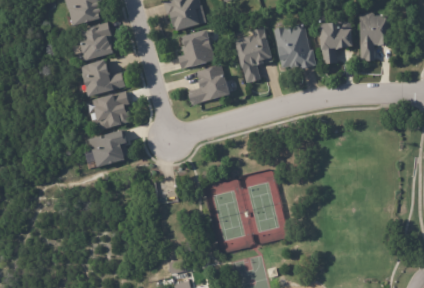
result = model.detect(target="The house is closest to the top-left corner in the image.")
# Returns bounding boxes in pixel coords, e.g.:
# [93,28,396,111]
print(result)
[66,0,100,24]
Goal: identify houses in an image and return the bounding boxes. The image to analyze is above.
[190,64,229,103]
[238,28,272,83]
[274,23,314,70]
[66,0,100,24]
[170,0,206,30]
[179,32,212,68]
[82,59,126,96]
[321,22,352,64]
[360,12,386,60]
[90,130,126,166]
[82,23,112,60]
[93,92,130,130]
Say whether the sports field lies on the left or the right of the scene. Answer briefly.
right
